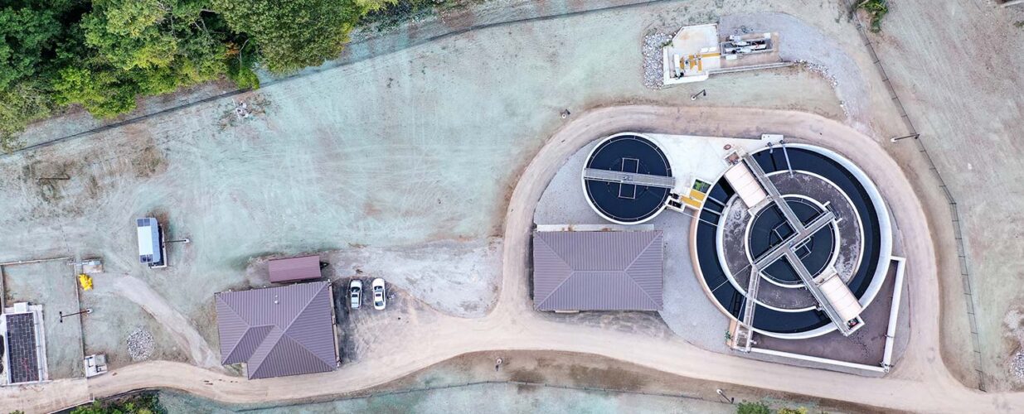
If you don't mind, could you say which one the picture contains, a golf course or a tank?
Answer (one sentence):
Visible in the photo is a tank.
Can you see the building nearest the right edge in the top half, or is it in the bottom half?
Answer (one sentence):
The building nearest the right edge is in the bottom half of the image.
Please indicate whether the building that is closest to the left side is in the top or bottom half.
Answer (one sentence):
The bottom half of the photo is where the building that is closest to the left side is.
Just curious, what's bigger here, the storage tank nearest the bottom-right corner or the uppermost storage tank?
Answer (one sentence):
The storage tank nearest the bottom-right corner covers a greater area than the uppermost storage tank.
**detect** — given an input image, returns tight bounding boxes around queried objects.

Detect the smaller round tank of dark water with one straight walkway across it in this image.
[581,132,677,224]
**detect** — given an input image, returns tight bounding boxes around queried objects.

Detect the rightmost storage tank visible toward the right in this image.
[682,139,891,351]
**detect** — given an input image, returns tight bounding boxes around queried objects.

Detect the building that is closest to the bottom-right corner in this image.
[532,230,664,312]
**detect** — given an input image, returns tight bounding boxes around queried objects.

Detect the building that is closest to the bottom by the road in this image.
[214,278,343,381]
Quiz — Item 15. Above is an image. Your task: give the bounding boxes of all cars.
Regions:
[348,280,362,310]
[371,279,385,310]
